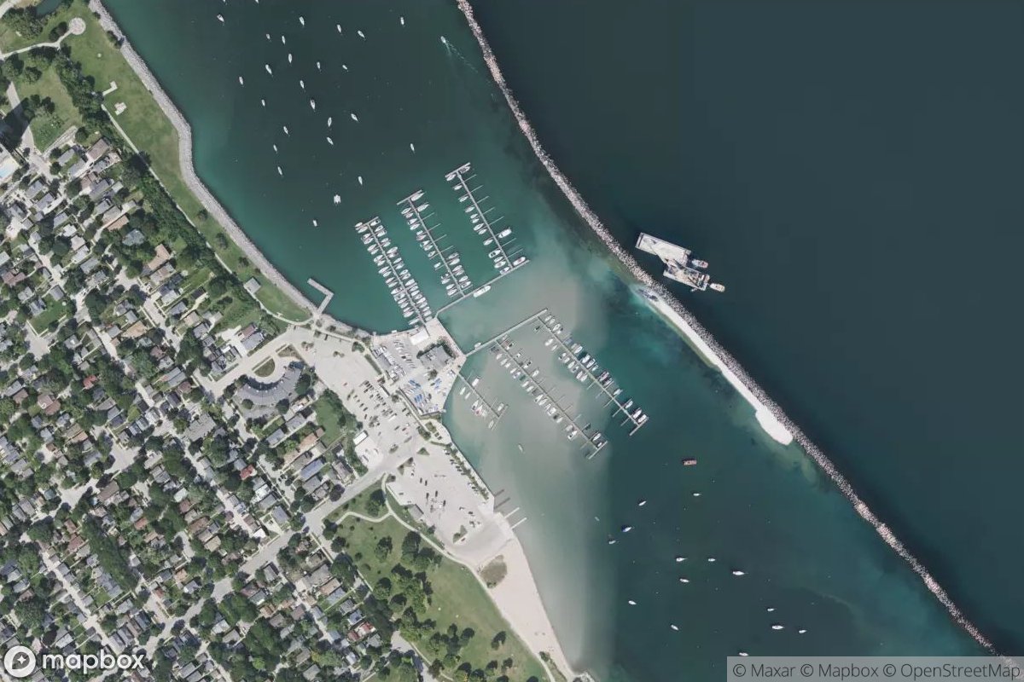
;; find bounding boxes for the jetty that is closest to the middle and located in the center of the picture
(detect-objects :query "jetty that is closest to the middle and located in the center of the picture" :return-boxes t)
[465,307,548,358]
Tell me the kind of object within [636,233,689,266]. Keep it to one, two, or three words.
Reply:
ship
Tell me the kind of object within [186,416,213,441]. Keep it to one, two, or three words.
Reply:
building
